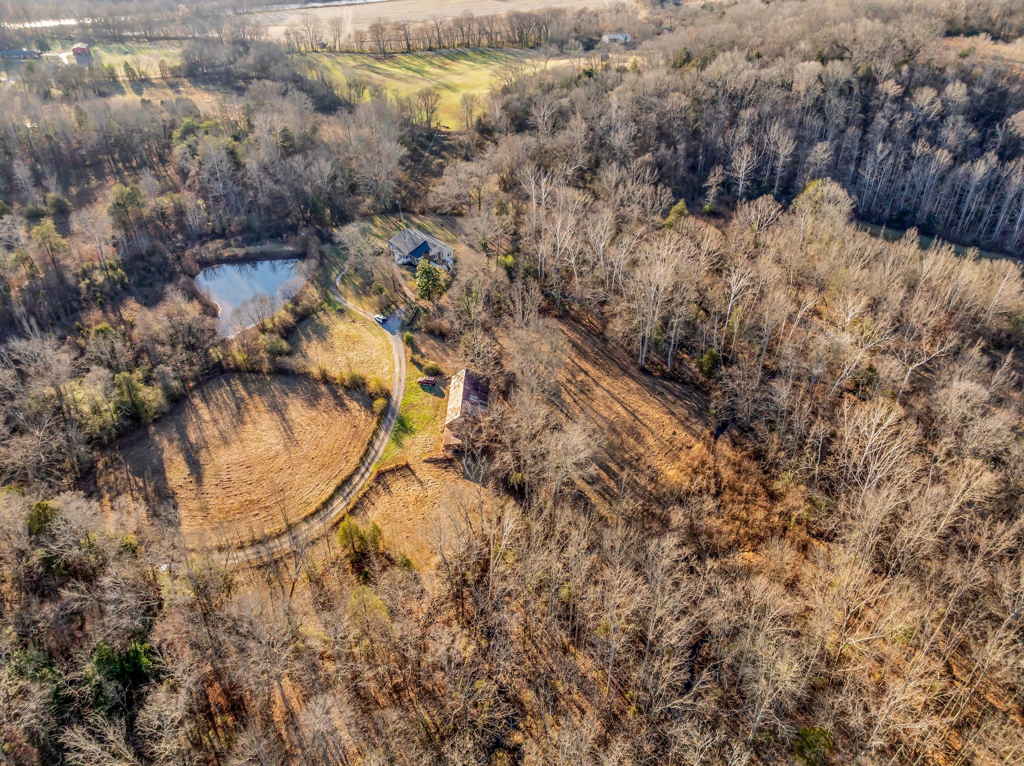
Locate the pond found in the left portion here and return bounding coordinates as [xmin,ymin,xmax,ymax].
[188,256,312,343]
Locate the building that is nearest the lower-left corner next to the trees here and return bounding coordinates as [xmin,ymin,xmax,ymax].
[440,365,493,457]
